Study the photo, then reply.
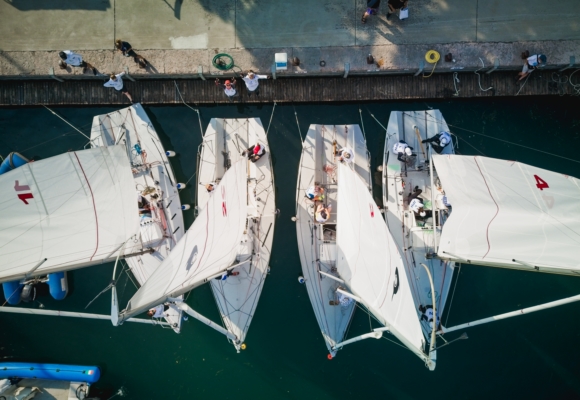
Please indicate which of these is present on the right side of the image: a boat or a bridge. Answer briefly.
boat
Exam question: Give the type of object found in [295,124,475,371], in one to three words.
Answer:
boat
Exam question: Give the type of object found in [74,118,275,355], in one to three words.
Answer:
boat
